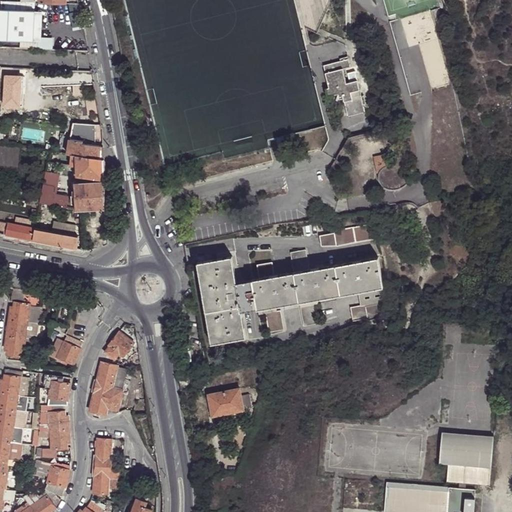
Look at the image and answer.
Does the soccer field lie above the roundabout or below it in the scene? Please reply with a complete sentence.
The soccer field is found above the roundabout in the photo.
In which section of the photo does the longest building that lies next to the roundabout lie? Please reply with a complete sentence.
You can find the longest building that lies next to the roundabout in the center area of the picture.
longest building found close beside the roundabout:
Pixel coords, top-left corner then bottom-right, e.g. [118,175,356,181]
[196,259,383,346]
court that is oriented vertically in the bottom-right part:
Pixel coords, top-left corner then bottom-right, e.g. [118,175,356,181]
[452,348,492,426]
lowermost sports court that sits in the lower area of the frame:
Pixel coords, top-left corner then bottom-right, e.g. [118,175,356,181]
[316,412,428,484]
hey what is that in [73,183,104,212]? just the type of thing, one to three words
house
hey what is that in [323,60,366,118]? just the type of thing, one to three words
building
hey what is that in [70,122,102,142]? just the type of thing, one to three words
house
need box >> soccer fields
[126,0,324,158]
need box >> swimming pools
[20,127,48,144]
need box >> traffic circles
[119,256,182,319]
